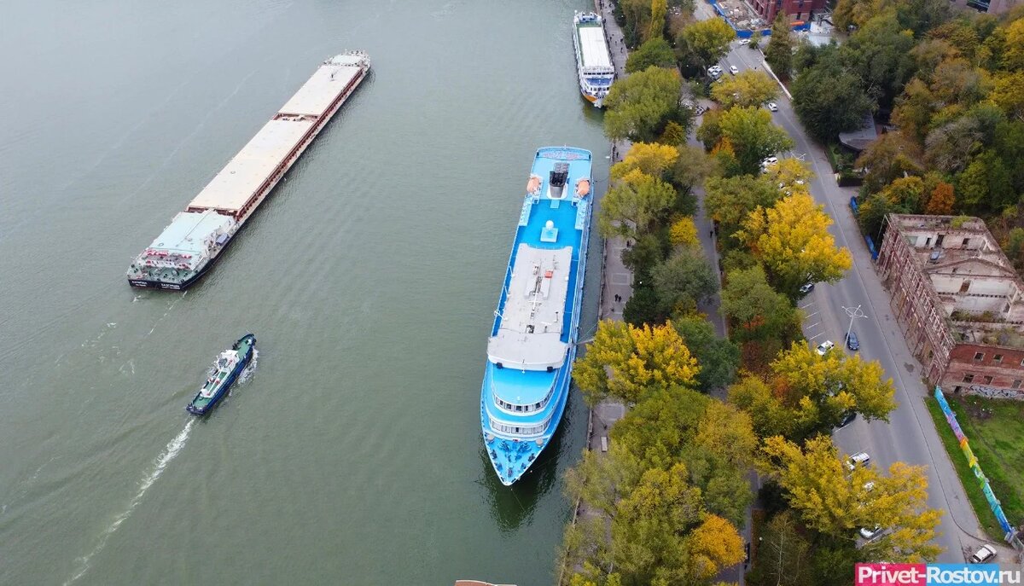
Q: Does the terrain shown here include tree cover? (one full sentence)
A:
Yes, tree cover can be seen from above here.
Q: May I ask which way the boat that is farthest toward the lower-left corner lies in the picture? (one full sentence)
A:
The boat that is farthest toward the lower-left corner is laid out diagonally.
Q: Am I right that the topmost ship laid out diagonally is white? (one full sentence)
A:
Yes, the topmost ship laid out diagonally is white.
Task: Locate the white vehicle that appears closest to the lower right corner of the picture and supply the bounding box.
[974,544,998,562]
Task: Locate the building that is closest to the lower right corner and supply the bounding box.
[874,213,1024,396]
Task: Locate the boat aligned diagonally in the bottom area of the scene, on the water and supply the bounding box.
[184,328,257,417]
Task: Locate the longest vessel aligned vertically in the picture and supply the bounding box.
[480,143,592,495]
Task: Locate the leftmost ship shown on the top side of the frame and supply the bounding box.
[128,45,372,297]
